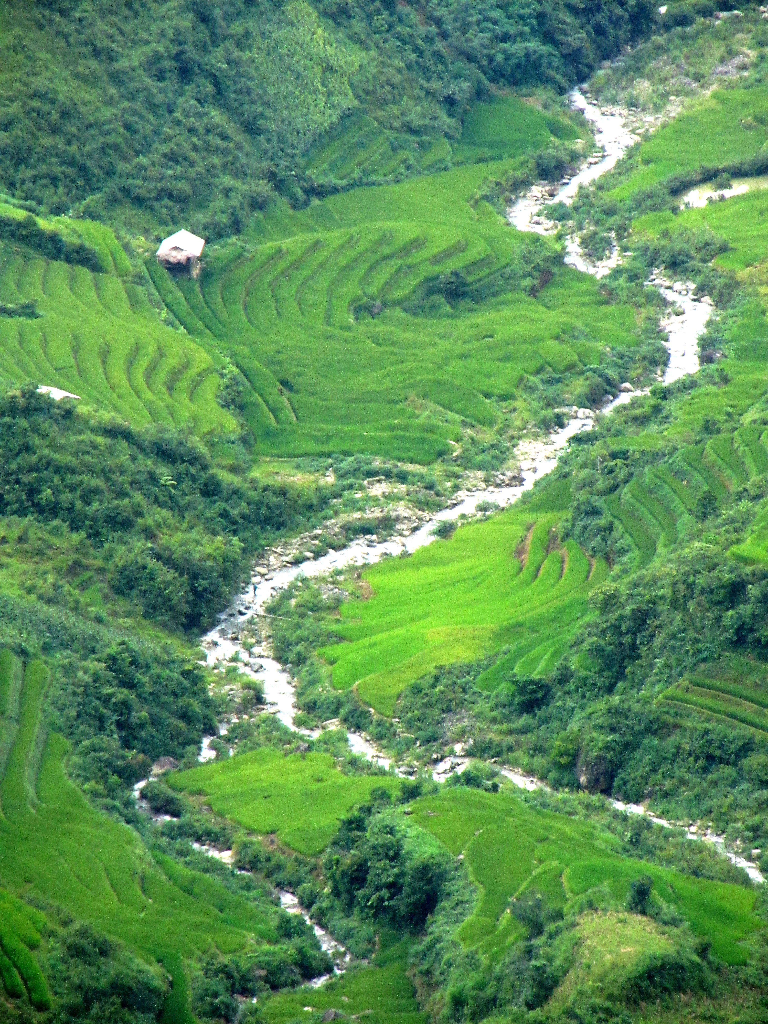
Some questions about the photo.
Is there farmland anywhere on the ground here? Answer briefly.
Yes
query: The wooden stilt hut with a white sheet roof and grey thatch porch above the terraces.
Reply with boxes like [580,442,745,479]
[156,237,206,283]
